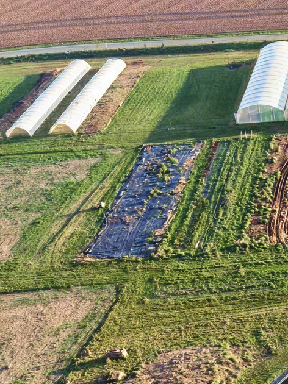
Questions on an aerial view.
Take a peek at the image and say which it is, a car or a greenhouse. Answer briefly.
greenhouse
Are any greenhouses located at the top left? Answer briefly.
Yes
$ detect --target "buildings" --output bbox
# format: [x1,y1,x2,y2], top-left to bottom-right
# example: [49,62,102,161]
[234,44,288,123]
[4,59,82,137]
[49,55,121,133]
